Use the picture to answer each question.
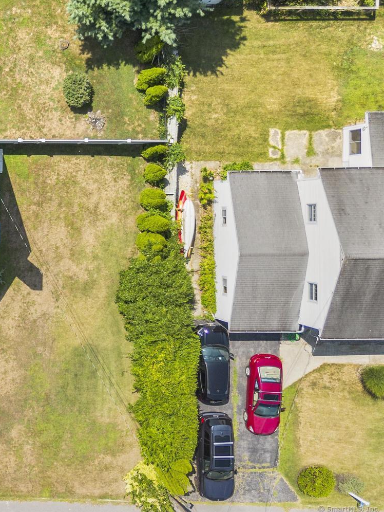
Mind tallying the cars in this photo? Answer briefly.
3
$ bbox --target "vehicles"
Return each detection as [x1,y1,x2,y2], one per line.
[191,325,234,407]
[239,352,283,434]
[193,411,237,500]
